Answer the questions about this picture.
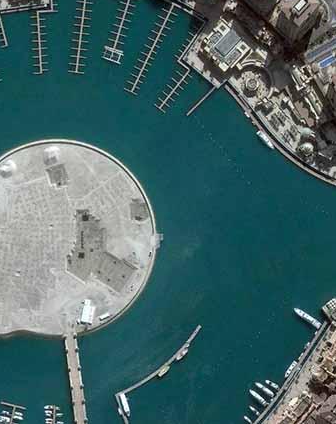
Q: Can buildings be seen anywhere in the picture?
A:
Yes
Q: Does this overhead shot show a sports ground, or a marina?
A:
marina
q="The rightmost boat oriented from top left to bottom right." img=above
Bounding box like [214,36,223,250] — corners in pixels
[294,308,324,328]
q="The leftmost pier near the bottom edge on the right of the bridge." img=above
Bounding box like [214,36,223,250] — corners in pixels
[116,324,201,424]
